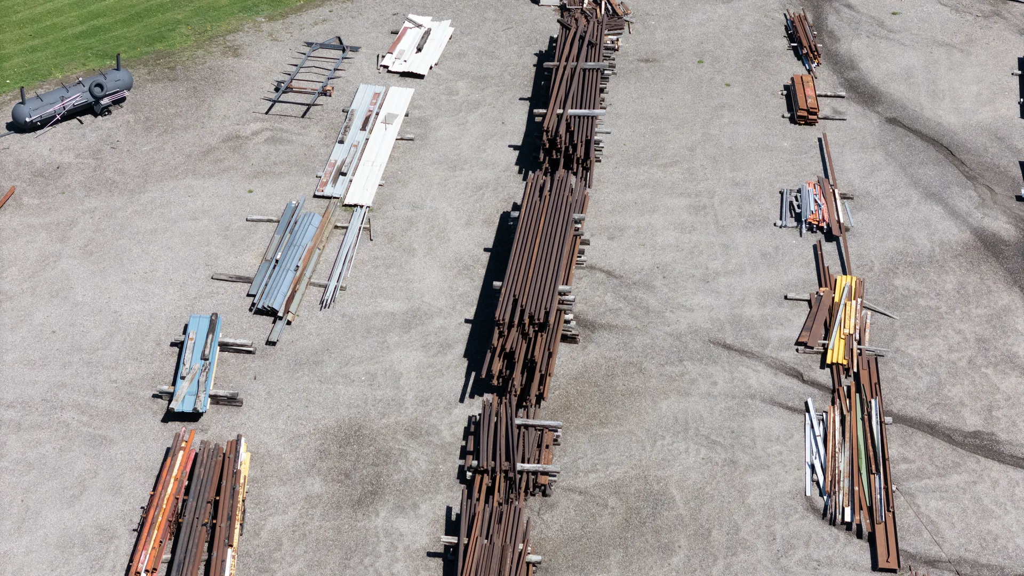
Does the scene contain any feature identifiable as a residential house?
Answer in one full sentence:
No, I find no residential house anywhere in the image.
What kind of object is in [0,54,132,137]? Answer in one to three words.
trailer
